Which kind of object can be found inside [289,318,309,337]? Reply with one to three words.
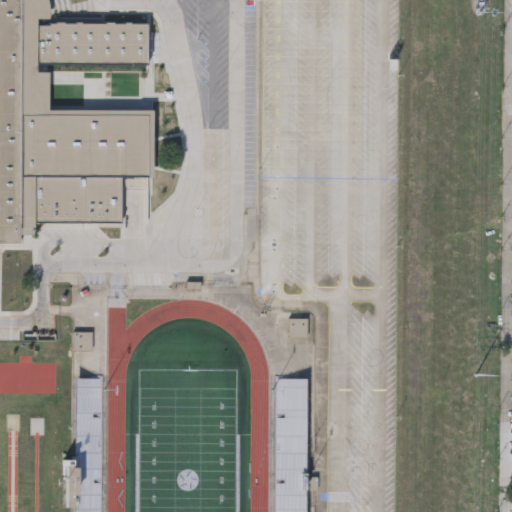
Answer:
building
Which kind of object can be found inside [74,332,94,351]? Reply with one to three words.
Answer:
building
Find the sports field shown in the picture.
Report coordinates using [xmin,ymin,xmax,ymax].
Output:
[126,318,250,512]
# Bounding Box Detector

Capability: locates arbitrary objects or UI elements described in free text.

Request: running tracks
[106,298,270,512]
